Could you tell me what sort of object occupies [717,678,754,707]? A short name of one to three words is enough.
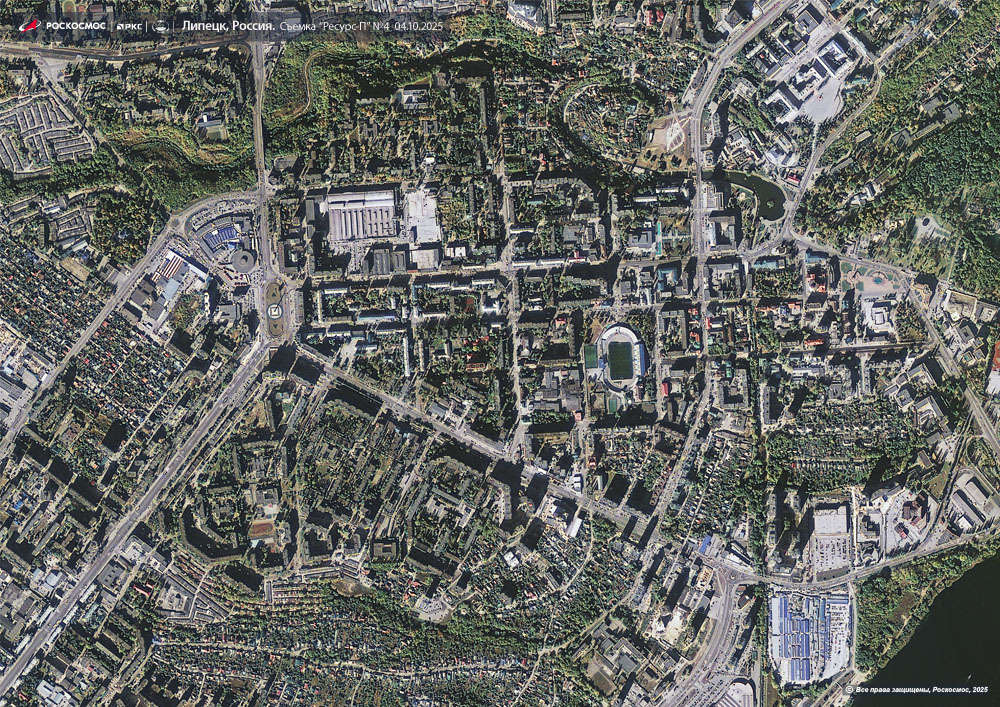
building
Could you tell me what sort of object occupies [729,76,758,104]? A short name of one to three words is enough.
building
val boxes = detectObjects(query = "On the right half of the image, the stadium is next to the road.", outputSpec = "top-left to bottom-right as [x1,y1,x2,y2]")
[602,325,646,392]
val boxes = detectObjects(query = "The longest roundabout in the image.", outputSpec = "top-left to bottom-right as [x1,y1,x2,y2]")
[267,278,284,336]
